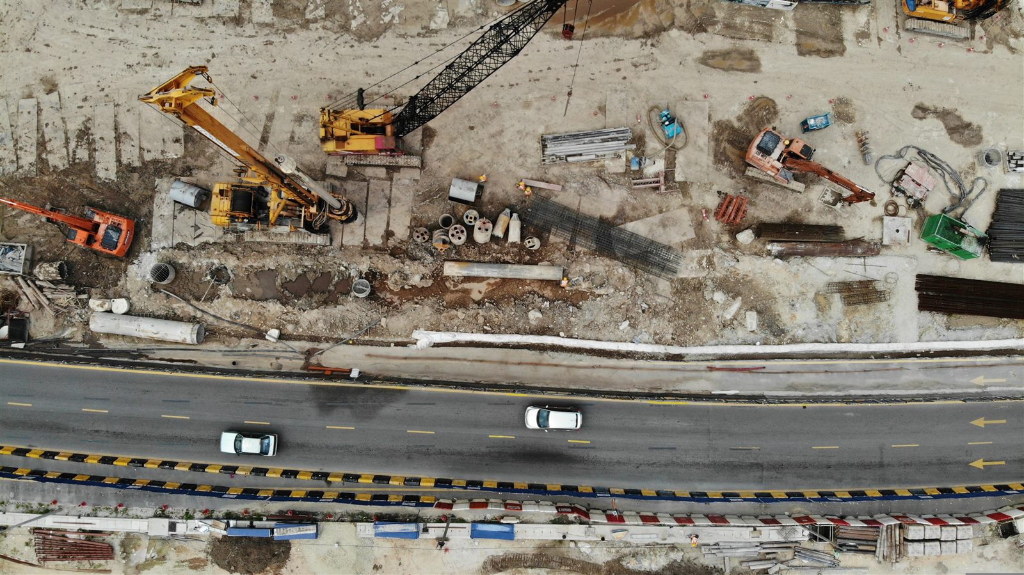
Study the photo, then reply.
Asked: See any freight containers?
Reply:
Yes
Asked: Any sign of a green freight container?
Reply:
Yes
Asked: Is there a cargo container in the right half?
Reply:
Yes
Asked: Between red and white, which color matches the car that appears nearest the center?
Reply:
white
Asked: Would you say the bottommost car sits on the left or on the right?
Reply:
left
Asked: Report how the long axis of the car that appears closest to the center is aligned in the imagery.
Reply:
horizontally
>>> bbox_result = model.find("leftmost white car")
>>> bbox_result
[218,431,277,459]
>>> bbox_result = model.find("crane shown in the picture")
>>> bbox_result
[319,0,591,171]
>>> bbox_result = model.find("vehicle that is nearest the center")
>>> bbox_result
[524,404,583,433]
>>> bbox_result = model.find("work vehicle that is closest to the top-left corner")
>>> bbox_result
[0,196,143,260]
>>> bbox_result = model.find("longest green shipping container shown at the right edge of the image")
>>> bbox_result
[921,213,987,259]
